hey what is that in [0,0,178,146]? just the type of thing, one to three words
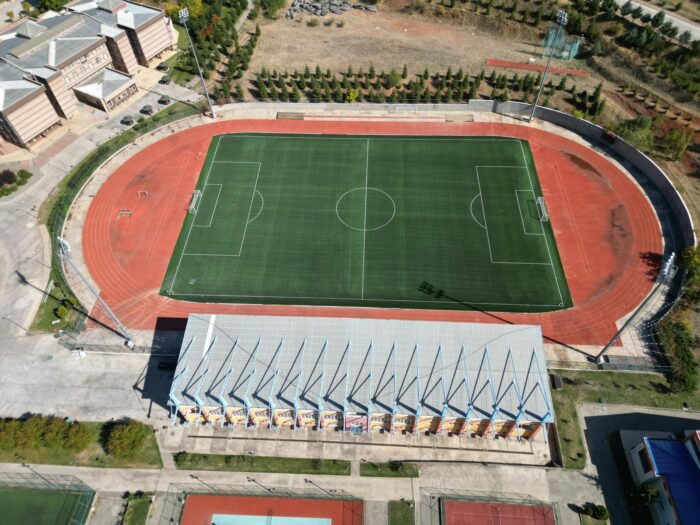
building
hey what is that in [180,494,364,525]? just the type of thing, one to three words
basketball court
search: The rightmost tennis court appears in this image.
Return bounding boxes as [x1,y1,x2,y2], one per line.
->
[440,500,555,525]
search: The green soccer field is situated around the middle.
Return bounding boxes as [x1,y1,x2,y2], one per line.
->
[161,132,573,312]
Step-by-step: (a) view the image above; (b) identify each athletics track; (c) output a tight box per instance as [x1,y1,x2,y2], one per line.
[83,119,661,345]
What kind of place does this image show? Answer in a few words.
sports ground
